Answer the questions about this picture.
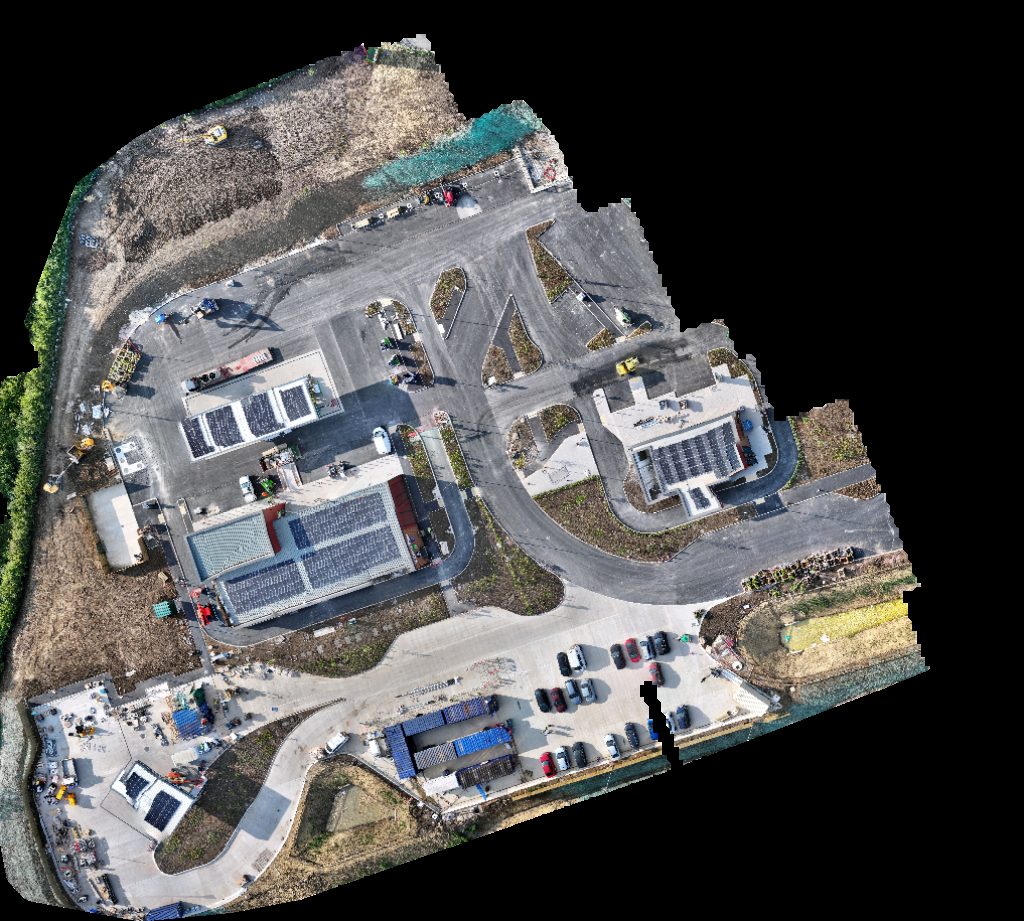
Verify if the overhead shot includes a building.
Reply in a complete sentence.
Yes, this view includes a building.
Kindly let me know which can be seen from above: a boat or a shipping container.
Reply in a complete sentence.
This aerial view contains a shipping container.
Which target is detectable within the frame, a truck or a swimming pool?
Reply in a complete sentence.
There is a truck in the scene.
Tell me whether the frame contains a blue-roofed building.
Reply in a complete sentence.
Yes, a blue-roofed building appears in the view.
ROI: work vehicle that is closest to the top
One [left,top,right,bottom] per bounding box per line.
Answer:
[174,123,229,148]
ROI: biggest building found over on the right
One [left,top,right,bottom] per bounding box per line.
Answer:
[631,412,751,519]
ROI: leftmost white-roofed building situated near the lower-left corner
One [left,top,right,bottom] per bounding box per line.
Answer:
[110,761,196,845]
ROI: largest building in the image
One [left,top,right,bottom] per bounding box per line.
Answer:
[184,475,430,632]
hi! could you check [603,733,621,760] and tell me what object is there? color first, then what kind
white car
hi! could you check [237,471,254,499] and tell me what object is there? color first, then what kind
white vehicle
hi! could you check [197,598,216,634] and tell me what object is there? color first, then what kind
red work vehicle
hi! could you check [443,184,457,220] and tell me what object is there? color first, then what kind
red work vehicle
